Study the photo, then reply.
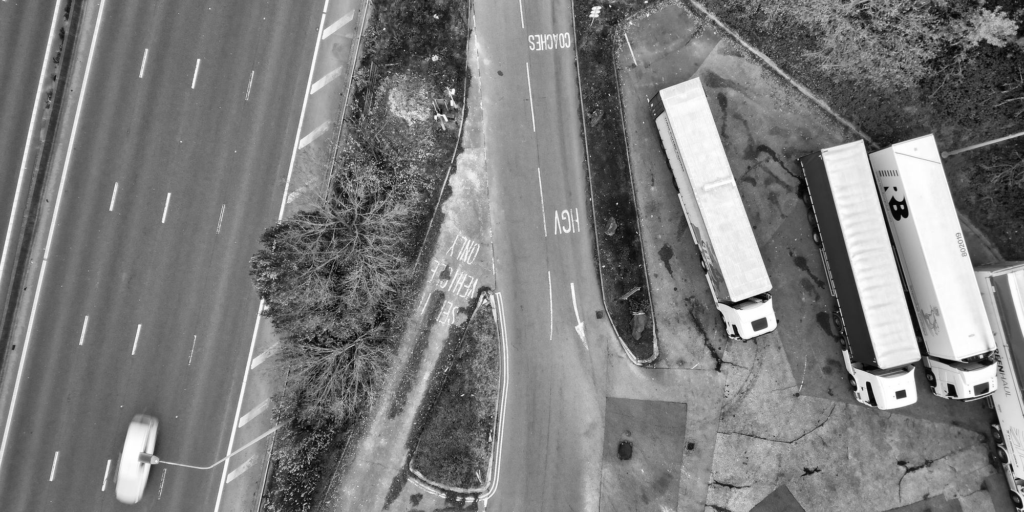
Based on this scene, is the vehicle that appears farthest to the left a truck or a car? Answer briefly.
truck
